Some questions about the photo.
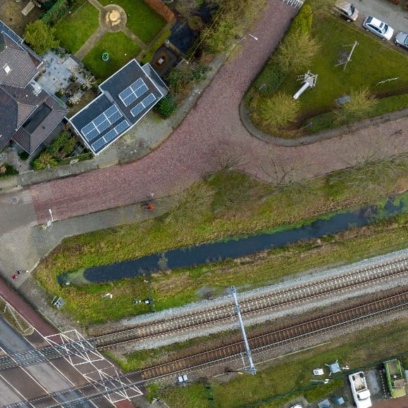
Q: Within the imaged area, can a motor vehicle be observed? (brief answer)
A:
Yes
